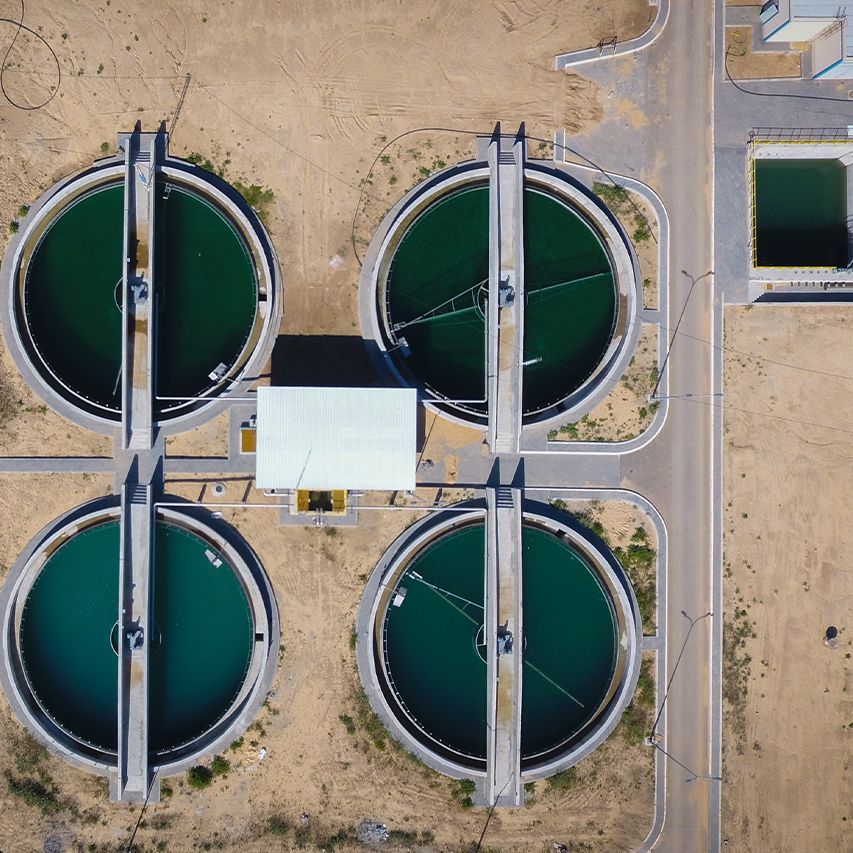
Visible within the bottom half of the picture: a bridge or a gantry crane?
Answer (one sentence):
The feature located within the bottom half of the picture is a bridge.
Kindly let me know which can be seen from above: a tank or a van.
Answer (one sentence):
The one in the frame is a tank.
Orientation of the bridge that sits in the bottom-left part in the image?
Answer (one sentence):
In this picture, the bridge that sits in the bottom-left part lies up and down.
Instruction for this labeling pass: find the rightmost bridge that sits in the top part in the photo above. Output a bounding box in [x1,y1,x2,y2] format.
[485,142,522,453]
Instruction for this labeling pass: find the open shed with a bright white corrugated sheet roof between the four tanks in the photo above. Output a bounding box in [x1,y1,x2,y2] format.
[254,386,418,491]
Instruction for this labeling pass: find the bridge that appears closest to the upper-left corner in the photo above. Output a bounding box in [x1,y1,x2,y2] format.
[122,139,156,449]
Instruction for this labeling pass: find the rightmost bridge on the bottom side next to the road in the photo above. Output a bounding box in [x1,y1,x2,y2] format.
[483,486,521,805]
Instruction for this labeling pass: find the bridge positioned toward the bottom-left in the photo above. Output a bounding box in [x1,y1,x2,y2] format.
[117,483,152,801]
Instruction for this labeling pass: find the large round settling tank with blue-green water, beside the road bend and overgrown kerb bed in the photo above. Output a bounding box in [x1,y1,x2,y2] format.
[357,486,641,805]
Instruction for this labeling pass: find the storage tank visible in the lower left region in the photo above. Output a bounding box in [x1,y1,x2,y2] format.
[0,483,279,801]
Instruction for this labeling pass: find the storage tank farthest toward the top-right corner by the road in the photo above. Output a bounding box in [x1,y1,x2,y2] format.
[358,142,643,453]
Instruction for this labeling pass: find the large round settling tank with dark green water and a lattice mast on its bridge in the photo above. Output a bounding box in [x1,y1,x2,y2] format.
[0,139,283,449]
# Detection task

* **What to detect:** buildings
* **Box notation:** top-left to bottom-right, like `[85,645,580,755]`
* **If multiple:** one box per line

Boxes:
[254,386,418,491]
[761,0,853,78]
